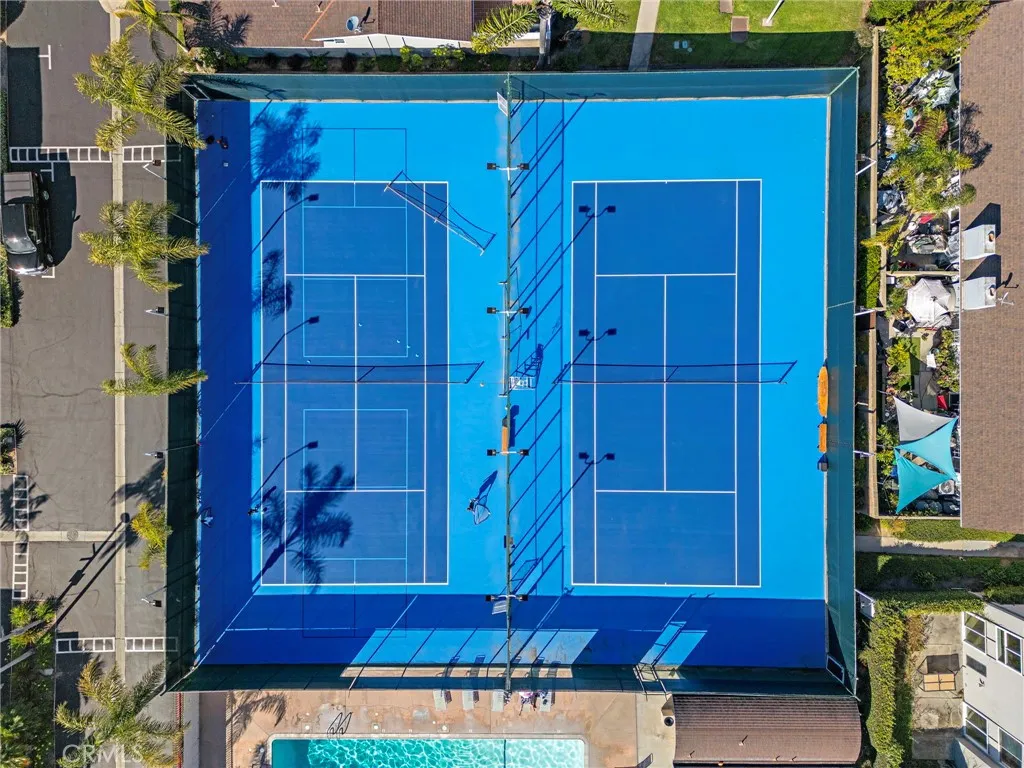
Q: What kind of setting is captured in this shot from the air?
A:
sports ground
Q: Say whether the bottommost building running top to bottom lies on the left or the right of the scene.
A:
right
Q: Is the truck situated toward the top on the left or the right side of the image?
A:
left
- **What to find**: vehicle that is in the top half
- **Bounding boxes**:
[0,172,53,278]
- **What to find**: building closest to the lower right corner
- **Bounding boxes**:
[950,598,1024,768]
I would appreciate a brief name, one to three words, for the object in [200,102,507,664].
tennis court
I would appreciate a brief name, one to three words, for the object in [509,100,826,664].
tennis court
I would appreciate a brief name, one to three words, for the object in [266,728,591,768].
swimming pool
